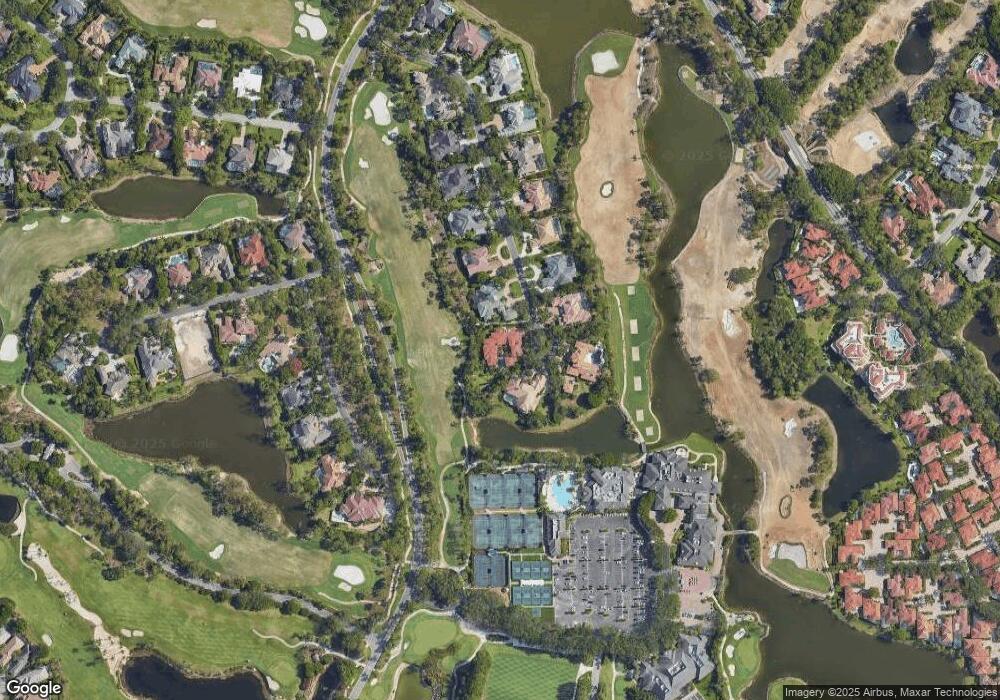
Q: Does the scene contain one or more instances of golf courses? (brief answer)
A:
Yes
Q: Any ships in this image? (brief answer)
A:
No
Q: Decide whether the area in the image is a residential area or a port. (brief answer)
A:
residential area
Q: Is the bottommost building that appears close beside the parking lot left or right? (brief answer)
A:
right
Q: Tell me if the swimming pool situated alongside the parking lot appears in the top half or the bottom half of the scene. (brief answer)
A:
bottom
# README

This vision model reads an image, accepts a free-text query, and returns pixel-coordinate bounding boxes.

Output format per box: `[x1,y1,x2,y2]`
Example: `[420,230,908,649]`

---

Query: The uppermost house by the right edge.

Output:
[966,51,1000,90]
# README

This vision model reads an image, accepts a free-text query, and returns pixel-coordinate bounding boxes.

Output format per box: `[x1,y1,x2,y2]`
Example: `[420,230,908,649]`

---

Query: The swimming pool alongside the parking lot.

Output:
[553,473,574,511]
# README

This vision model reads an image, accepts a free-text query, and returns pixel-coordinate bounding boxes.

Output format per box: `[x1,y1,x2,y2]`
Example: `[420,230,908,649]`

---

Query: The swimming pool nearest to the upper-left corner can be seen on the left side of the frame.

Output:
[104,15,122,35]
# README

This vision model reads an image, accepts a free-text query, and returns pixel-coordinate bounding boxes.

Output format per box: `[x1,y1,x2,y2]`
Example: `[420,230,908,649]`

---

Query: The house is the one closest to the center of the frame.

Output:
[479,323,528,369]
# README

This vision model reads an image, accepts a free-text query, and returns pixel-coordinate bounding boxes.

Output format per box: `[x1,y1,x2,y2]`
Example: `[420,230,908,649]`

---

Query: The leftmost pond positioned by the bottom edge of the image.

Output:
[123,655,267,700]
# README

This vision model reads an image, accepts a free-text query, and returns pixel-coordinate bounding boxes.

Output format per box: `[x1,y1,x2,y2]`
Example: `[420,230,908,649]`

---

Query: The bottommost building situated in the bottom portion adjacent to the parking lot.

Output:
[640,637,721,700]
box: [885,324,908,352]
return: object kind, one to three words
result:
swimming pool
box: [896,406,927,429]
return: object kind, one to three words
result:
house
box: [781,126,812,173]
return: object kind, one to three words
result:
bridge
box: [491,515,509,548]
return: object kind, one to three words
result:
tennis court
